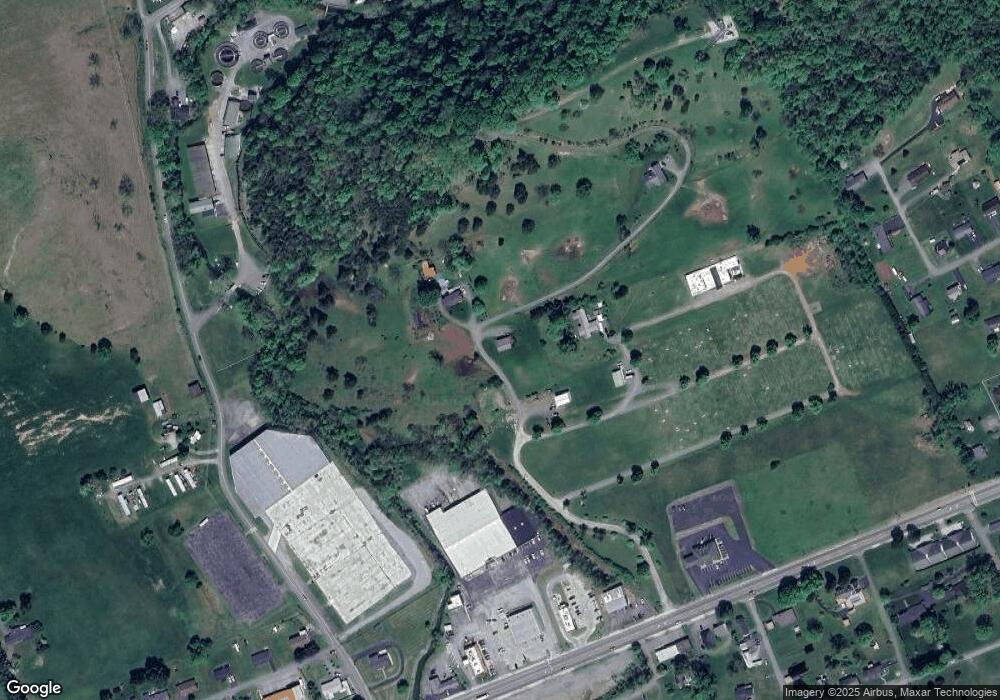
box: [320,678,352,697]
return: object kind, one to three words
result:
house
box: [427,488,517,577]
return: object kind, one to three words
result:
building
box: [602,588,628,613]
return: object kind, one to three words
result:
building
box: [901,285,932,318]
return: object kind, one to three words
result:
house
